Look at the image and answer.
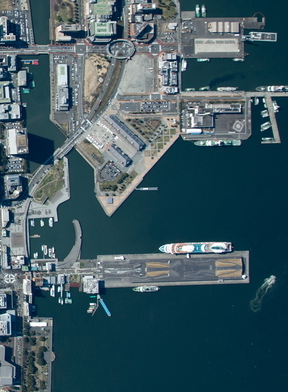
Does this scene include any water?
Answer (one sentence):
Yes, there's water in this view.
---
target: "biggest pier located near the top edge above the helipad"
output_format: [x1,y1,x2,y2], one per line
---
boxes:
[180,11,265,58]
